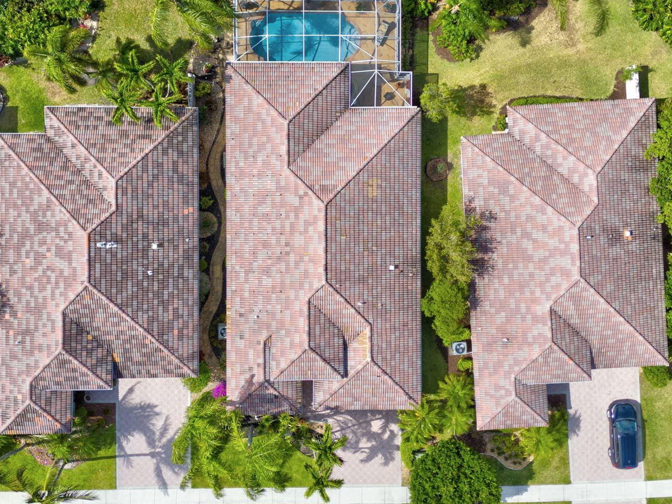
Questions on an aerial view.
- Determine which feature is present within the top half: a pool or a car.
pool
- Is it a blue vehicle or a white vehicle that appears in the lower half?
blue vehicle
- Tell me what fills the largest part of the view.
buildings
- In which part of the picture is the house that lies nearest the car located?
right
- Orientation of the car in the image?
vertically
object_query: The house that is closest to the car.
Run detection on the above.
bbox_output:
[460,97,671,431]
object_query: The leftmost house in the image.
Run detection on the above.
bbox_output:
[0,105,200,436]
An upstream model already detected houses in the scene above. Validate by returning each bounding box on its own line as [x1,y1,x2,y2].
[460,97,671,431]
[0,105,200,436]
[225,61,423,416]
